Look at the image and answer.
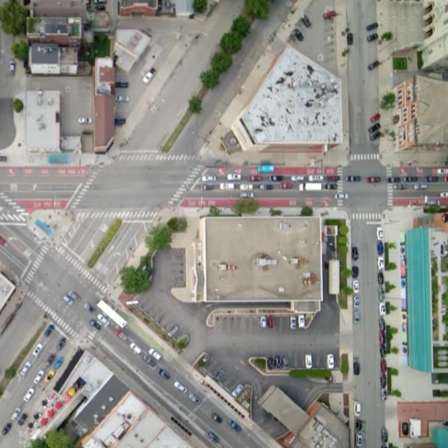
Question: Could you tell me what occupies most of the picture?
paved ground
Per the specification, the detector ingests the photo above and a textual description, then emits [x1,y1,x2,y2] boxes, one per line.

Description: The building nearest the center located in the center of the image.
[195,216,322,311]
